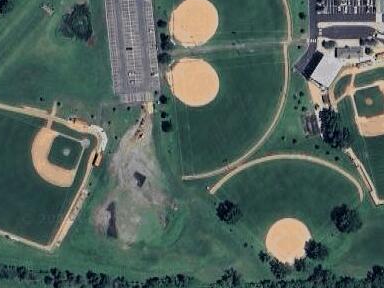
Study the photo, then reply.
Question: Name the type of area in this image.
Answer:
sports ground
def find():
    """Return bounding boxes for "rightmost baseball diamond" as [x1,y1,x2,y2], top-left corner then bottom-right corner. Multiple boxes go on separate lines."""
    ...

[323,60,384,204]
